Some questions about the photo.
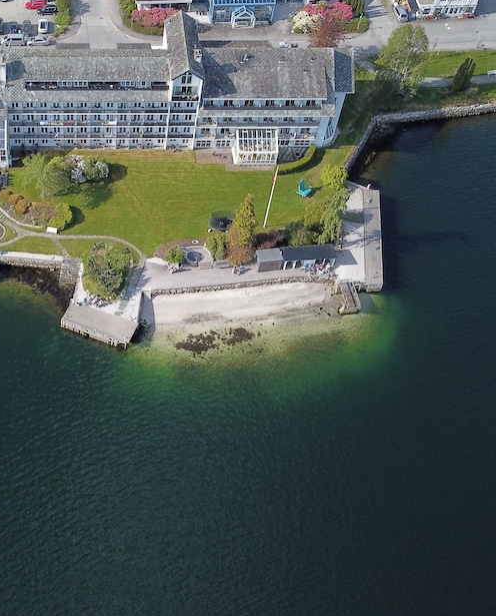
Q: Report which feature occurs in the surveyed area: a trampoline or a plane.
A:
trampoline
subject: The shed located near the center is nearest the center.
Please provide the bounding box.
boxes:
[254,246,284,271]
